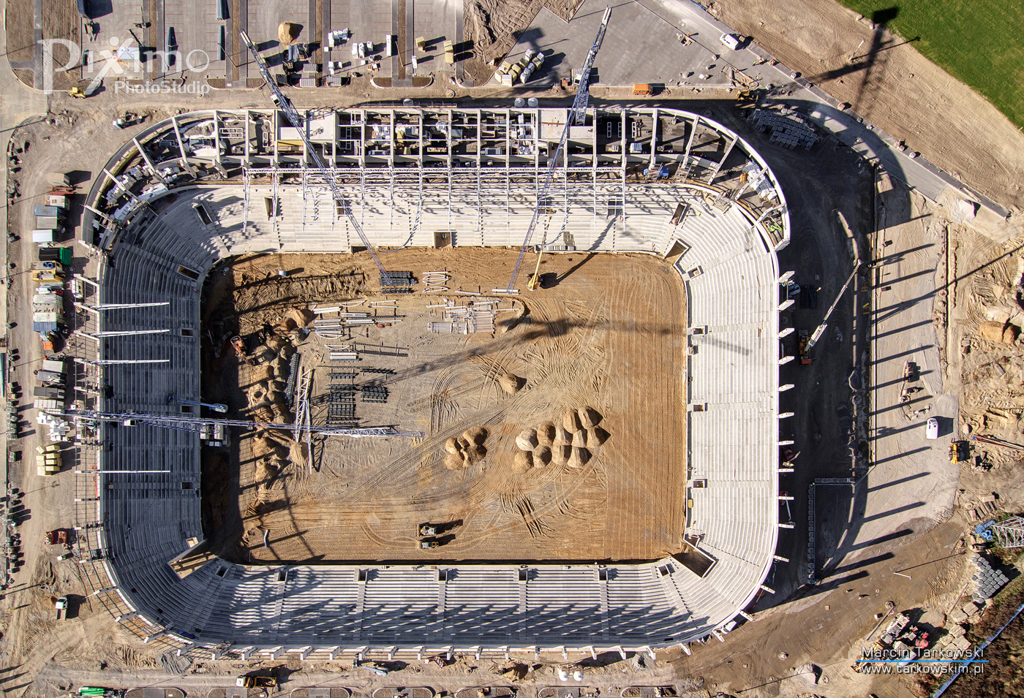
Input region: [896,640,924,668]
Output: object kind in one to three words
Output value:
truck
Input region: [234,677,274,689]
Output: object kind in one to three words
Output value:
vehicle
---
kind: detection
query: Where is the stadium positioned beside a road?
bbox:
[74,108,794,660]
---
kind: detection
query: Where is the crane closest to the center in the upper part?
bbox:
[517,211,554,302]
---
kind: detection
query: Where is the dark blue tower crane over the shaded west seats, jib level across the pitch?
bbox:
[55,408,424,442]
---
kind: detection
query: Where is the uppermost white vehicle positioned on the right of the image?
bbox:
[720,31,741,49]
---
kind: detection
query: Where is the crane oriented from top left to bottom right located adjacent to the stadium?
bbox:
[238,29,388,281]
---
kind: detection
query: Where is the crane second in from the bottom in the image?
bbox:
[791,260,861,367]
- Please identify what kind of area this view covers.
sports ground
